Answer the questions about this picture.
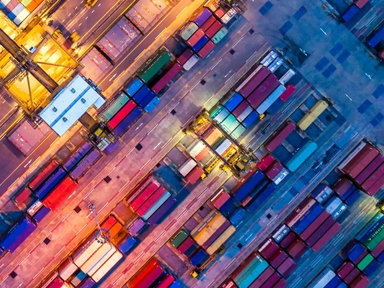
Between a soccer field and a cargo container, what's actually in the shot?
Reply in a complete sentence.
The image shows a cargo container.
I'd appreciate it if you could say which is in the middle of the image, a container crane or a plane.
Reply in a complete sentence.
You can see a container crane in the middle of the image.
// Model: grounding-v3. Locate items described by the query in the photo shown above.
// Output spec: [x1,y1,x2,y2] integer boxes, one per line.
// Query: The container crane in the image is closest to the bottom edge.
[183,113,261,183]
